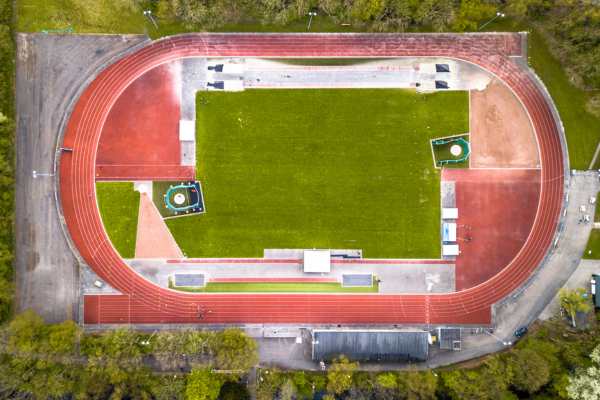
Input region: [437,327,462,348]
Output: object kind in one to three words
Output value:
building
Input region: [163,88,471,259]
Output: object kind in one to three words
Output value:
sports field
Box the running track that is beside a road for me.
[60,32,570,324]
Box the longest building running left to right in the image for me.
[309,327,429,362]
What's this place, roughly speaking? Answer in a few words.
sports ground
